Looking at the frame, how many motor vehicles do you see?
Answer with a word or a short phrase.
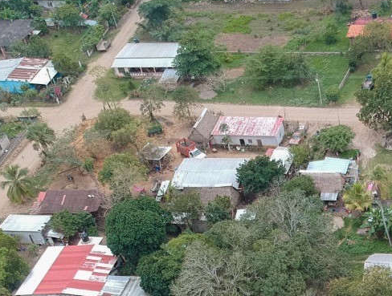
2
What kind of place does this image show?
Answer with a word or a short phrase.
residential area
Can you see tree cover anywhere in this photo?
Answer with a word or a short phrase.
Yes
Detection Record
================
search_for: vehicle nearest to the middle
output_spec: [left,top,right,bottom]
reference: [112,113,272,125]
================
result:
[171,129,207,155]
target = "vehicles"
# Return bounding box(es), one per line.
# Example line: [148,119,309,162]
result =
[282,124,306,145]
[171,129,207,155]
